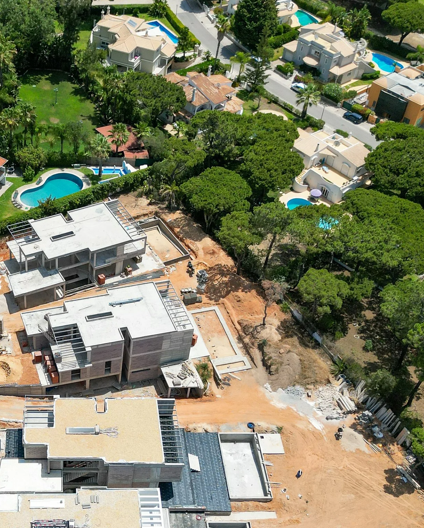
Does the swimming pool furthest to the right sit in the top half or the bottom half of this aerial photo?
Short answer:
top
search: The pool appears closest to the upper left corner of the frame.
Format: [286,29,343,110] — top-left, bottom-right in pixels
[148,18,182,46]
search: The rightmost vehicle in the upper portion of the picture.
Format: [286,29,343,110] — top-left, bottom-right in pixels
[341,104,368,122]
